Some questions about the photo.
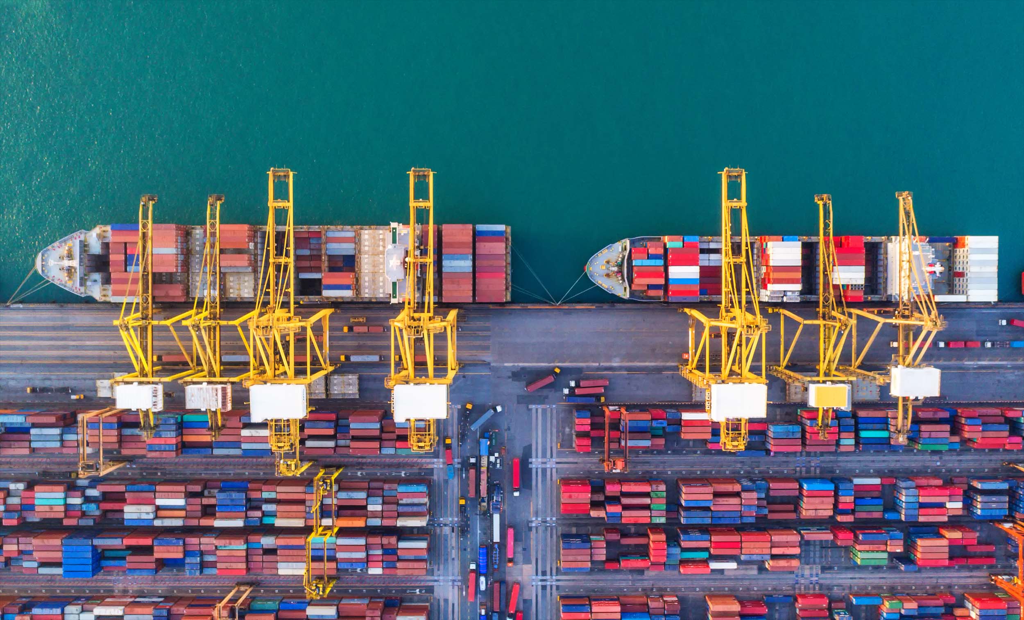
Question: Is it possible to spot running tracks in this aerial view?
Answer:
No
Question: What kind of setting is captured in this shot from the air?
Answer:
port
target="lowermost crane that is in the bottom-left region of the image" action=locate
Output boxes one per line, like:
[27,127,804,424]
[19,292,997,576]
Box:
[217,583,253,620]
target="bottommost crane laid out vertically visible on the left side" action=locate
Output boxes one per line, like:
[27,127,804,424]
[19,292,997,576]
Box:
[305,525,337,599]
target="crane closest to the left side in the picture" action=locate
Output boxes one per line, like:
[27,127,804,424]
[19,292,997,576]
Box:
[79,406,122,479]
